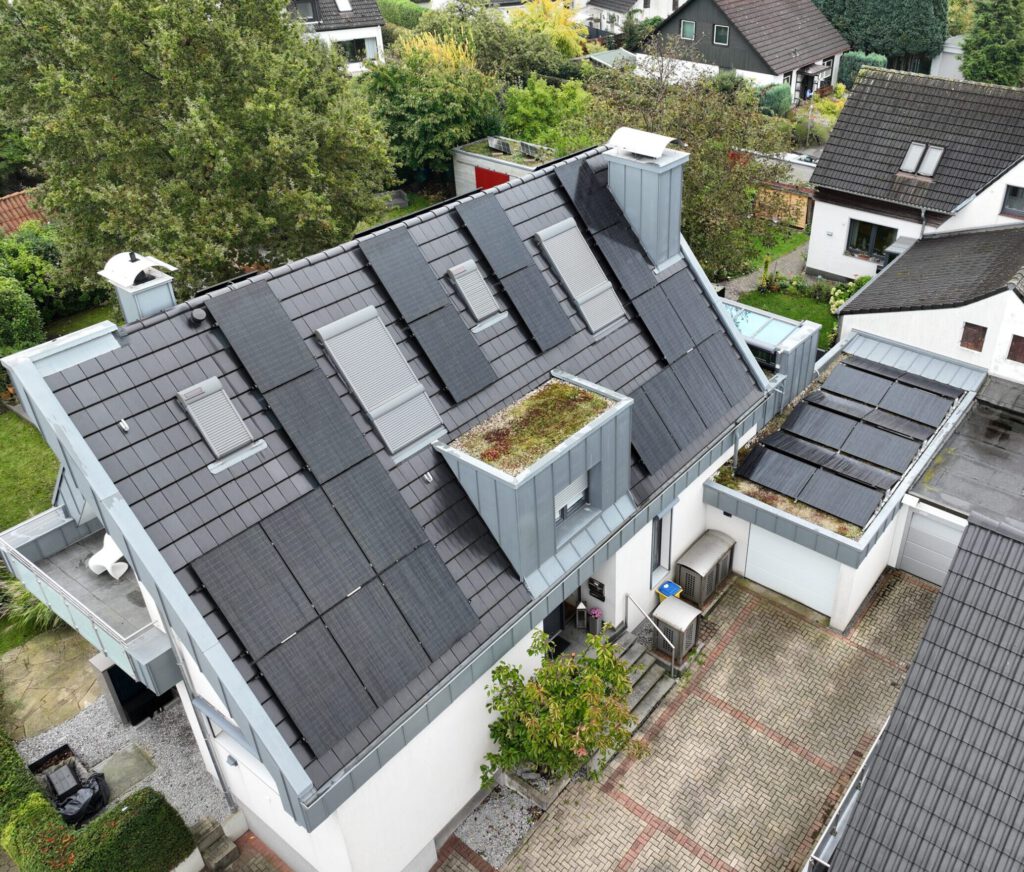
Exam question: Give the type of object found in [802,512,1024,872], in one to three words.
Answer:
house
